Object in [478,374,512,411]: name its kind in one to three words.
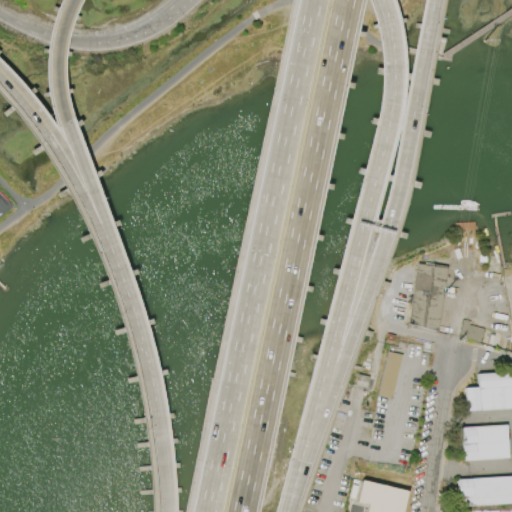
building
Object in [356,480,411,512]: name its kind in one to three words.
building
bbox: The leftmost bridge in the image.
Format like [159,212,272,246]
[0,0,182,512]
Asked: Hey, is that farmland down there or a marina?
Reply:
marina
